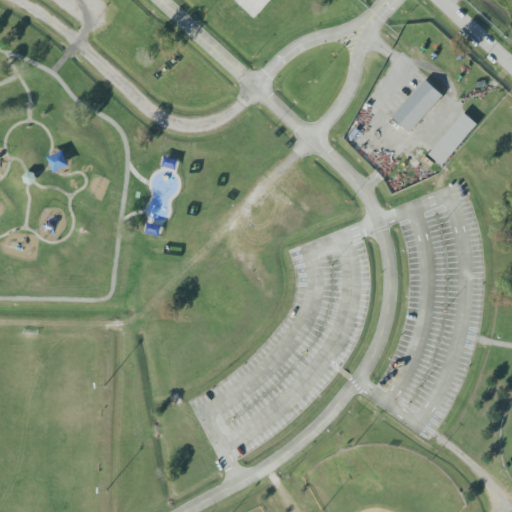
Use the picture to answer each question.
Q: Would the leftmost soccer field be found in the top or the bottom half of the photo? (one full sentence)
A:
The leftmost soccer field is in the bottom half of the image.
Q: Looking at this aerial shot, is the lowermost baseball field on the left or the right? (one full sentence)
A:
You can find the lowermost baseball field on the right side of the picture.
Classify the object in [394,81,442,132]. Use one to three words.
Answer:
building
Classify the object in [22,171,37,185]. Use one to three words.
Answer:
gazebo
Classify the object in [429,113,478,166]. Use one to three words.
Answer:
shed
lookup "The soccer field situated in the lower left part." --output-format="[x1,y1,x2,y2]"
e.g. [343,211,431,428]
[0,330,104,512]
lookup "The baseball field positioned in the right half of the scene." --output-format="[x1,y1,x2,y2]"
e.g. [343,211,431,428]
[306,448,466,512]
